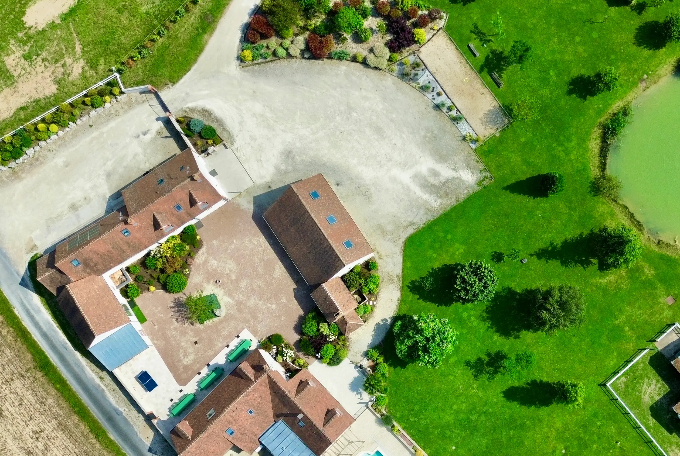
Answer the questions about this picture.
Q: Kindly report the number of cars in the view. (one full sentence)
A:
The count of cars is 0.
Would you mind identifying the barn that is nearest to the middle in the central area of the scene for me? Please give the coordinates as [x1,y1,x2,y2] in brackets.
[260,173,376,286]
